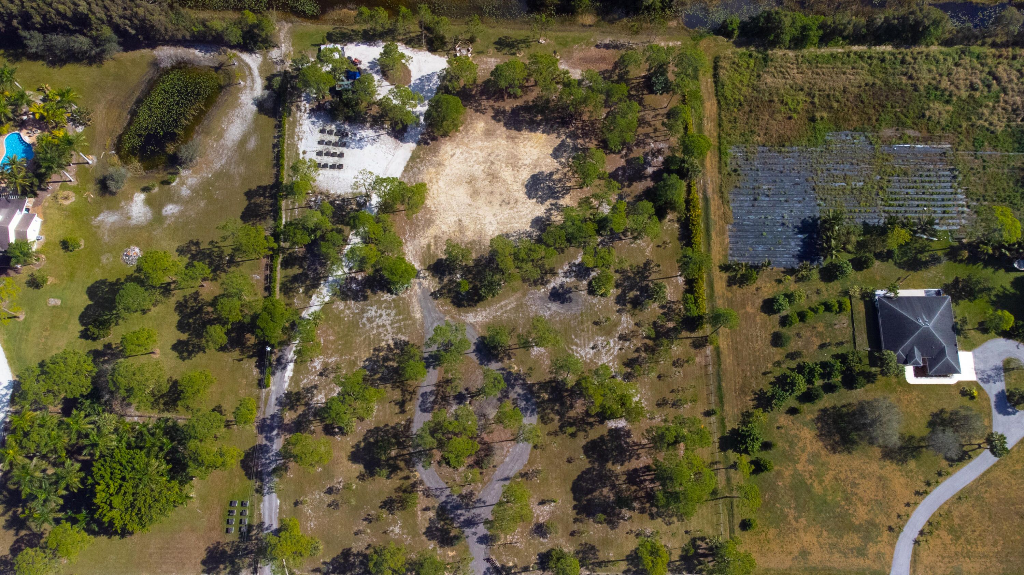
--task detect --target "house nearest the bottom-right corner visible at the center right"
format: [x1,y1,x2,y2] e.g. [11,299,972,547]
[875,296,963,375]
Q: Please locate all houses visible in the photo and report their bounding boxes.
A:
[875,296,963,375]
[0,196,43,259]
